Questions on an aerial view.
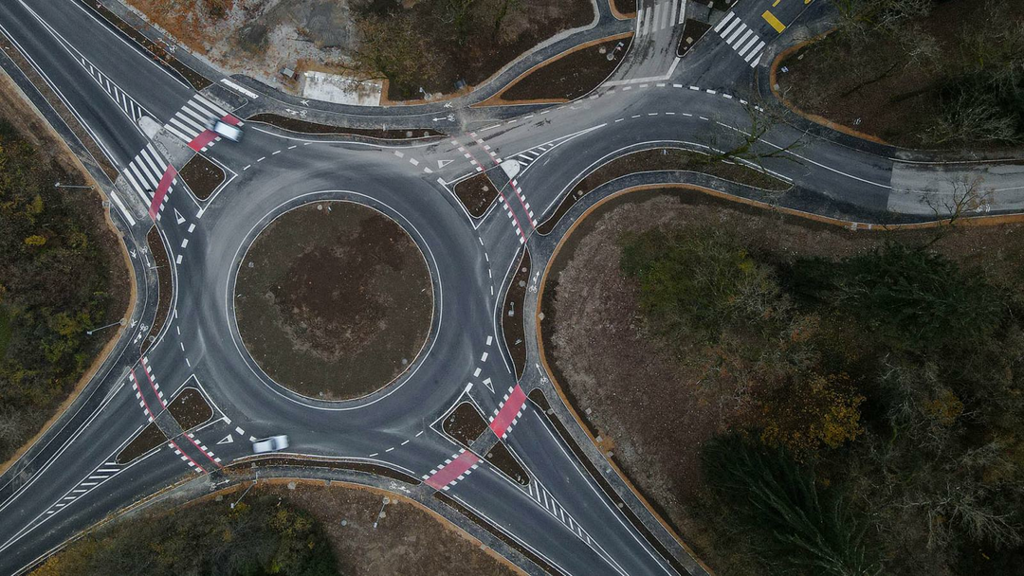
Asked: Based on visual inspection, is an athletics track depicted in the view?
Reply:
No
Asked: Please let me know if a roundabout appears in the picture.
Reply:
Yes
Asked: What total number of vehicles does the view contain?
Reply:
2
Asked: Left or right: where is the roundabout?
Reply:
left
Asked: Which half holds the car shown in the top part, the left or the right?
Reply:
left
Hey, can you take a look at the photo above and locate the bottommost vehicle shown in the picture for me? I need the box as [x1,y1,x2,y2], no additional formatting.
[252,432,290,452]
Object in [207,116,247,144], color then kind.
white car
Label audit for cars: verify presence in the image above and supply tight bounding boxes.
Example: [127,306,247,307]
[252,432,290,452]
[207,116,247,144]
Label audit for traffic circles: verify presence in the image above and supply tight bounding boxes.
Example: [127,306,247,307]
[173,140,495,455]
